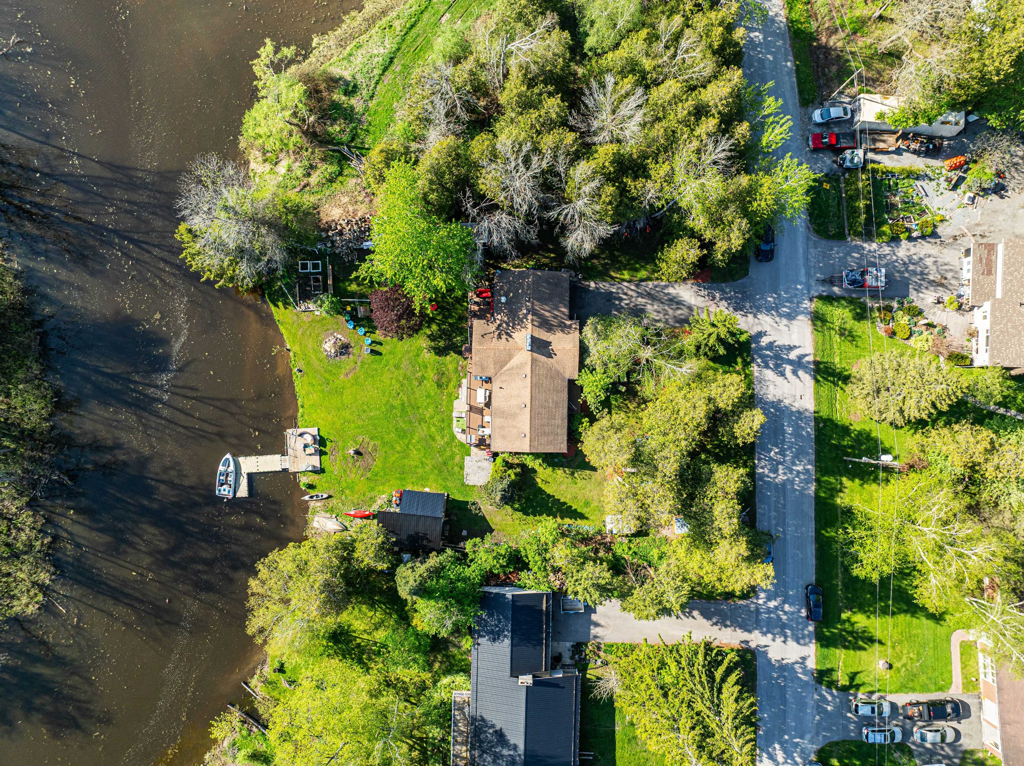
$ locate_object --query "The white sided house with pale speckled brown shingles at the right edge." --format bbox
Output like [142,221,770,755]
[958,236,1024,369]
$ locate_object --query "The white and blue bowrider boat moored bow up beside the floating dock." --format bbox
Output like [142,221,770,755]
[216,454,236,500]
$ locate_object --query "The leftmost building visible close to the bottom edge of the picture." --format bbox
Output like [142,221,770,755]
[471,586,581,766]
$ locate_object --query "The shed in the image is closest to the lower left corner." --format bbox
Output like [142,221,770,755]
[377,486,449,550]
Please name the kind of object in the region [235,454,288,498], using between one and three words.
pier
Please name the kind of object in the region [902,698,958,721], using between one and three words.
truck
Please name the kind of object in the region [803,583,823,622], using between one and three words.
car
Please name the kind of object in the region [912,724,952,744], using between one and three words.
car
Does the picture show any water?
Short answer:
Yes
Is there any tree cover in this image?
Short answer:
Yes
